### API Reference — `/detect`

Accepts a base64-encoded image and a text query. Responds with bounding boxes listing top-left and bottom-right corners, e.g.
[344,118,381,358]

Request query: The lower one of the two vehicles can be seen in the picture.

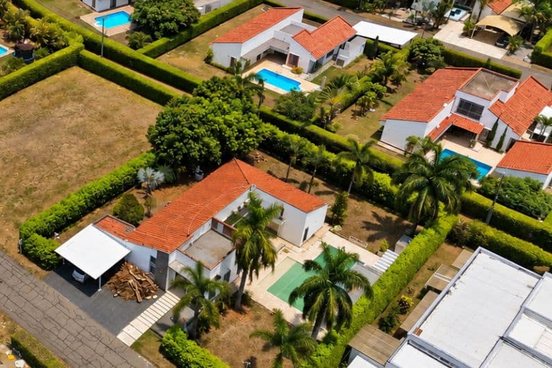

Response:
[62,263,92,287]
